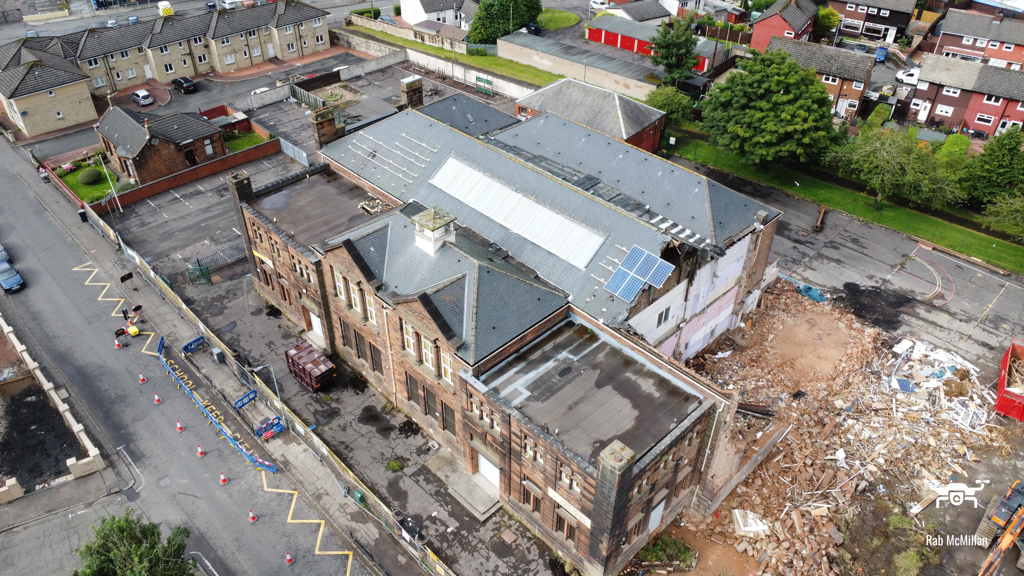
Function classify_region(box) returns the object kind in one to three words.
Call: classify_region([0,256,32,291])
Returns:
car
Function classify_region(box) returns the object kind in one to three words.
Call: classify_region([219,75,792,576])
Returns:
building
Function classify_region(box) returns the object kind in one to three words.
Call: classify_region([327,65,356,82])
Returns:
car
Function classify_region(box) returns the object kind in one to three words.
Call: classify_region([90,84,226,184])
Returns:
house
